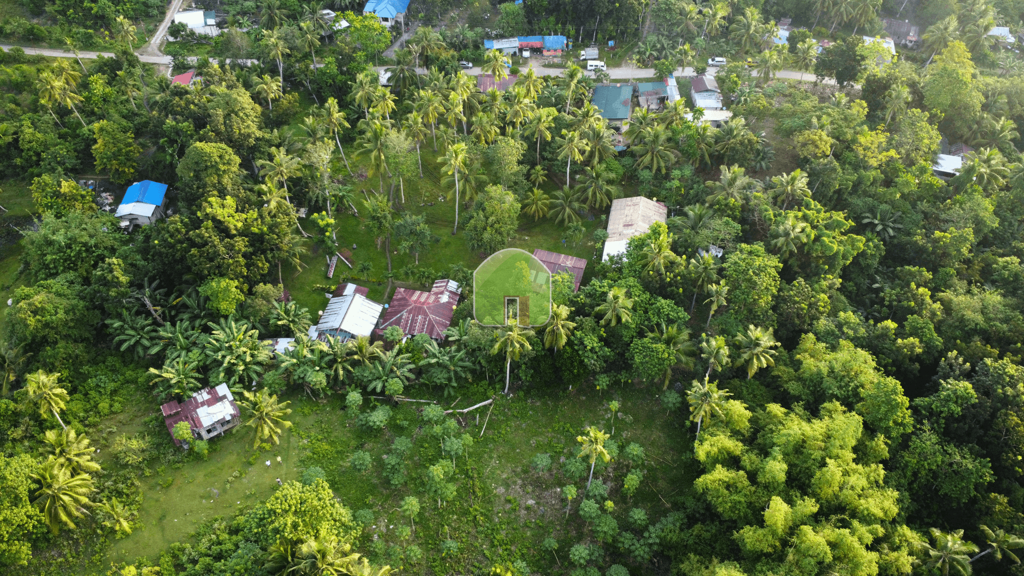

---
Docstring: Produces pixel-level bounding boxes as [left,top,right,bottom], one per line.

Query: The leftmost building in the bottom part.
[161,383,243,455]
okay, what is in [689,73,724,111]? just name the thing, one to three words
house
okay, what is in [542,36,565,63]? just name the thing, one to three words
building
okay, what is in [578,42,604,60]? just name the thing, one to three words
vehicle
